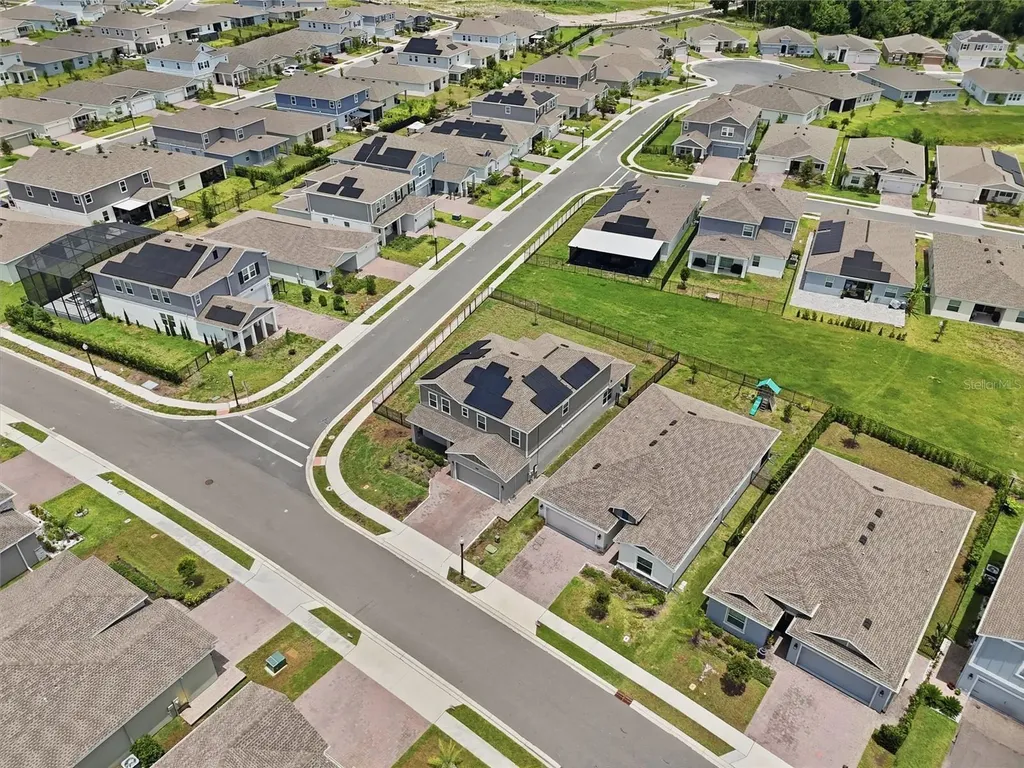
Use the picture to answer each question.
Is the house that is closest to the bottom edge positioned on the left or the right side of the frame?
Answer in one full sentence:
The house that is closest to the bottom edge sits on the left side.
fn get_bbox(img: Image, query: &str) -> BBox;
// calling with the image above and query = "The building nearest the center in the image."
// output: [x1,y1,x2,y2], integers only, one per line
[402,332,637,503]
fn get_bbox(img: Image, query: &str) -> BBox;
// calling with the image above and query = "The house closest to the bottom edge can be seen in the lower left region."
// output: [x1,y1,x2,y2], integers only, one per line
[149,680,333,768]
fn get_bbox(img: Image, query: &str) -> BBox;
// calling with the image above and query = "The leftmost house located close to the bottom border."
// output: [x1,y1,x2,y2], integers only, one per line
[0,547,224,768]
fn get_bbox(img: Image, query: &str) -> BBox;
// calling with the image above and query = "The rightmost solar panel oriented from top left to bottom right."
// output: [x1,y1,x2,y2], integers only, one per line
[992,150,1024,190]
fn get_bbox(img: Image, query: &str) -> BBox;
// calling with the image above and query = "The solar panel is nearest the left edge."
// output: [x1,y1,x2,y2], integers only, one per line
[101,243,208,288]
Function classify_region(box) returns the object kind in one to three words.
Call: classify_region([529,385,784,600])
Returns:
house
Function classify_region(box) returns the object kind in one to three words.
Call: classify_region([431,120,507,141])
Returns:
solar panel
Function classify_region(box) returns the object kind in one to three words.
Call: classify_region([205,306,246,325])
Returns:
solar panel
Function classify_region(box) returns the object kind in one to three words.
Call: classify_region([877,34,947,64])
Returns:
house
